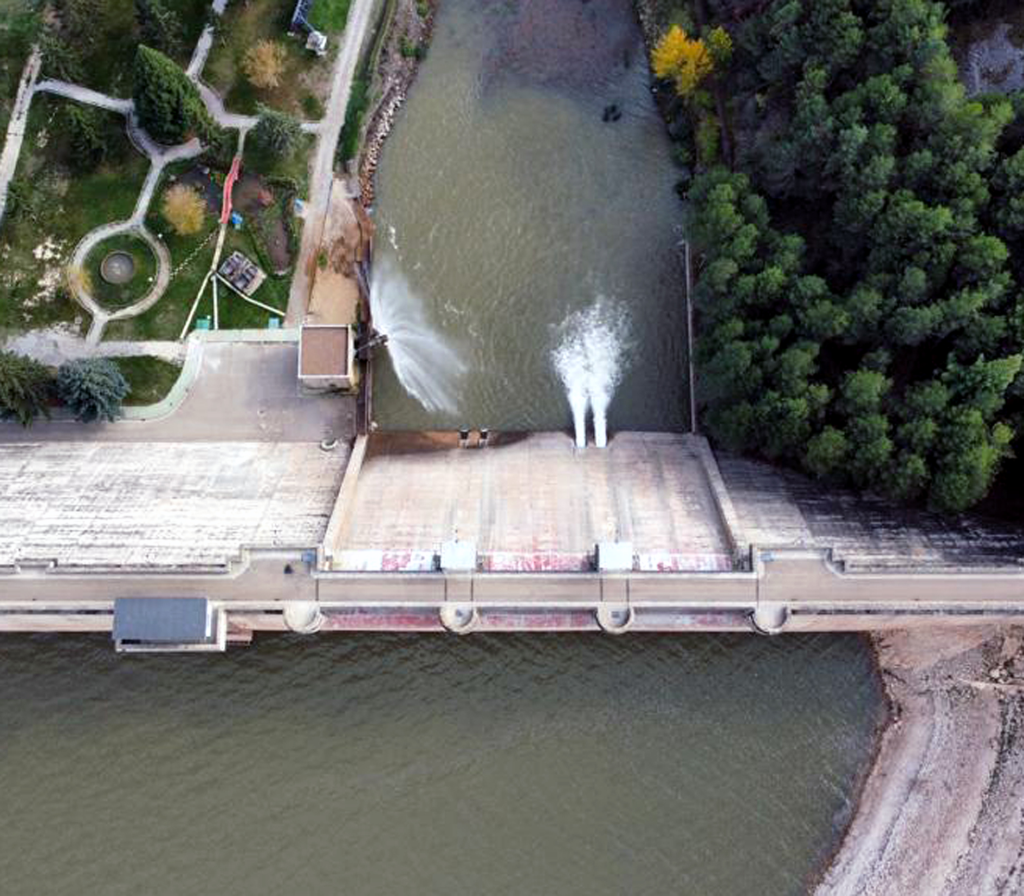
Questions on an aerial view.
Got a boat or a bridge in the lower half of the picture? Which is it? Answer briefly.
bridge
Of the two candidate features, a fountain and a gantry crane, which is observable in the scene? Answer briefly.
fountain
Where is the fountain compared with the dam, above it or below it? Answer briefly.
above it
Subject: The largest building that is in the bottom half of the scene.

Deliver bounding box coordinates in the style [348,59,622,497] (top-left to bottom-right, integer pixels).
[111,598,257,651]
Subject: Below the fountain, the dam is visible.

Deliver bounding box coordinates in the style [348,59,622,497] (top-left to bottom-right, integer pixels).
[0,432,1024,635]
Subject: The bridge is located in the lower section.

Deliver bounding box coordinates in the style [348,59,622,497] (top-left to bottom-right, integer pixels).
[314,567,761,607]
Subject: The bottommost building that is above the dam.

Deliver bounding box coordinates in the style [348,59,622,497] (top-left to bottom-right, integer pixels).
[298,326,359,394]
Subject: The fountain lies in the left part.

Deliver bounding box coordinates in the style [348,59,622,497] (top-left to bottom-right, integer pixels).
[100,250,135,283]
